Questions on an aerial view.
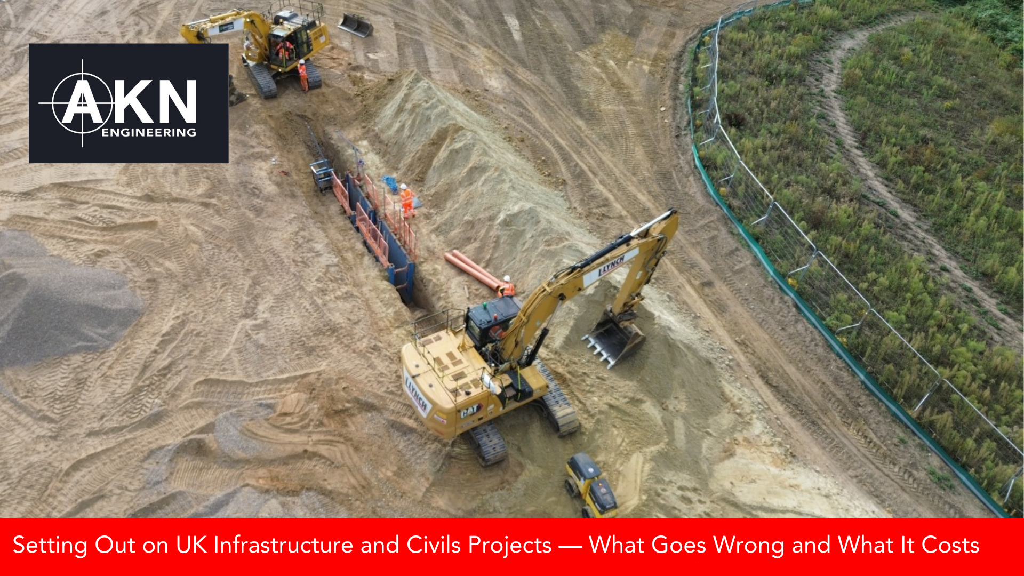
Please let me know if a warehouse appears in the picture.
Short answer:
No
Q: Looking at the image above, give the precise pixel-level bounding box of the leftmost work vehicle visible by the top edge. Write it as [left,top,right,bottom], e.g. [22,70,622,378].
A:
[177,0,331,107]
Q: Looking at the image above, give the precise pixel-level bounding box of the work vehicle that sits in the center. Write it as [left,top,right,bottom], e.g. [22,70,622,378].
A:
[399,204,678,461]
